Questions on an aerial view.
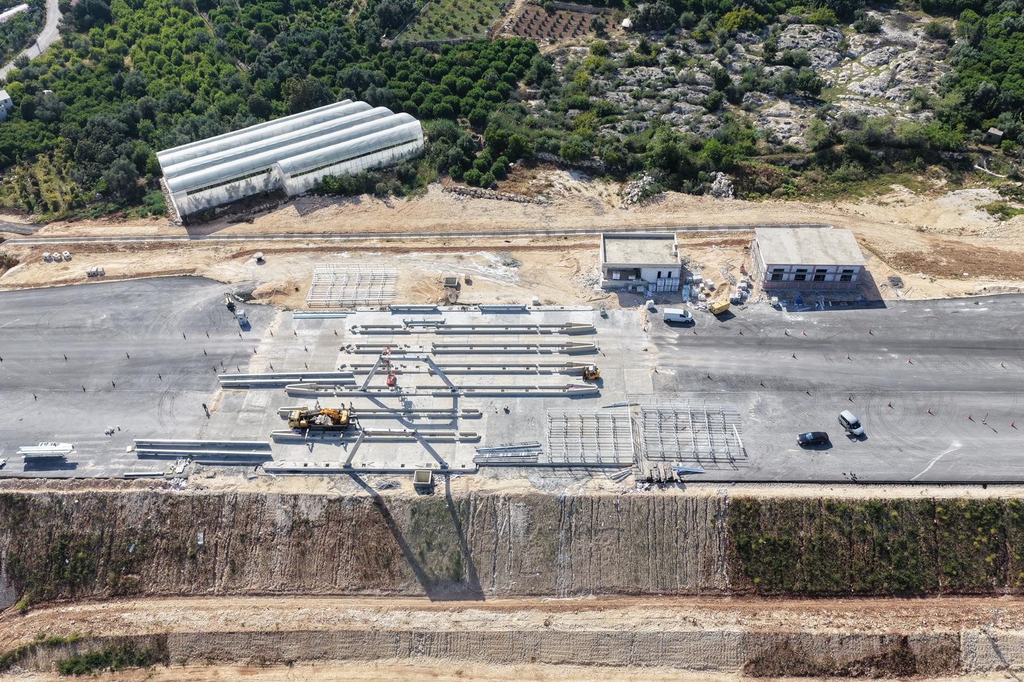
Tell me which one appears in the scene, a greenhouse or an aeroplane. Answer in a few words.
greenhouse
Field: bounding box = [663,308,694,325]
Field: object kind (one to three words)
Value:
vehicle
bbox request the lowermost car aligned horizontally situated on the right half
[797,433,832,449]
